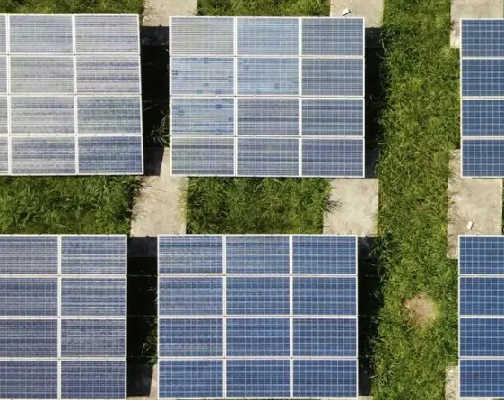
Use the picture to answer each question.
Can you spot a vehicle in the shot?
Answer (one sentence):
No, this view has no vehicle in it.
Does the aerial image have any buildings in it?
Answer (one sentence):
No, no building can be seen from above.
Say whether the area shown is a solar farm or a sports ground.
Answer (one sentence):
This looks like a solar farm.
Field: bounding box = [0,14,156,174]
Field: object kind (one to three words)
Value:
solar array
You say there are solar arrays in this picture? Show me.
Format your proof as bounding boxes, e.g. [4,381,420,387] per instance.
[158,236,364,399]
[459,236,504,400]
[170,17,371,176]
[461,20,504,178]
[0,14,156,174]
[0,236,142,400]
